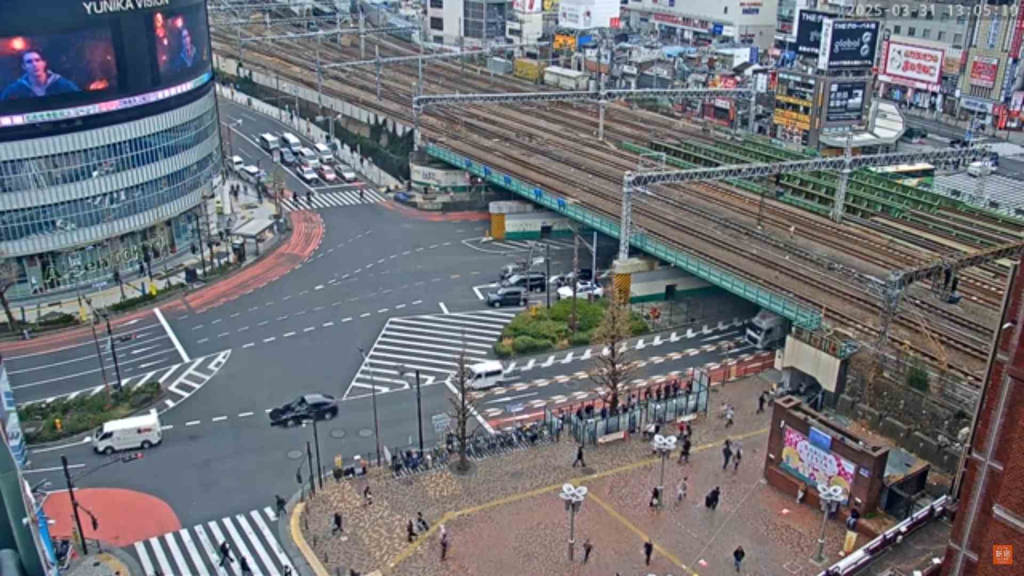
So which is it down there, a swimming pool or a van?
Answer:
van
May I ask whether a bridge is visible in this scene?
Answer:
Yes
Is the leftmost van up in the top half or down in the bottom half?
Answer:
bottom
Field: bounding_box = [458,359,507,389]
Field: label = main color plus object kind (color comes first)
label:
white van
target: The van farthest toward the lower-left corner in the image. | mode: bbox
[90,411,164,453]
